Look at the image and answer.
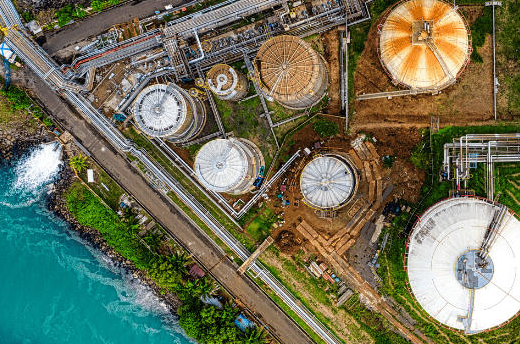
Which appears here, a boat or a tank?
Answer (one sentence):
This aerial view contains a tank.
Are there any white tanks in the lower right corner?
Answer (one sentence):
Yes, you'll find a white tank in the lower right corner.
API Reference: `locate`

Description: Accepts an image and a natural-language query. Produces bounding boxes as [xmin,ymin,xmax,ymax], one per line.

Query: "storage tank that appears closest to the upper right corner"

[358,0,473,100]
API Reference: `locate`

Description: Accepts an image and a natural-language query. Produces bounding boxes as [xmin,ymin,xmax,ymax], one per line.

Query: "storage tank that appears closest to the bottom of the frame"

[403,188,520,336]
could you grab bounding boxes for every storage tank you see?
[249,34,330,111]
[205,62,252,103]
[128,81,207,143]
[358,0,473,100]
[300,151,362,216]
[403,188,520,336]
[191,136,264,195]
